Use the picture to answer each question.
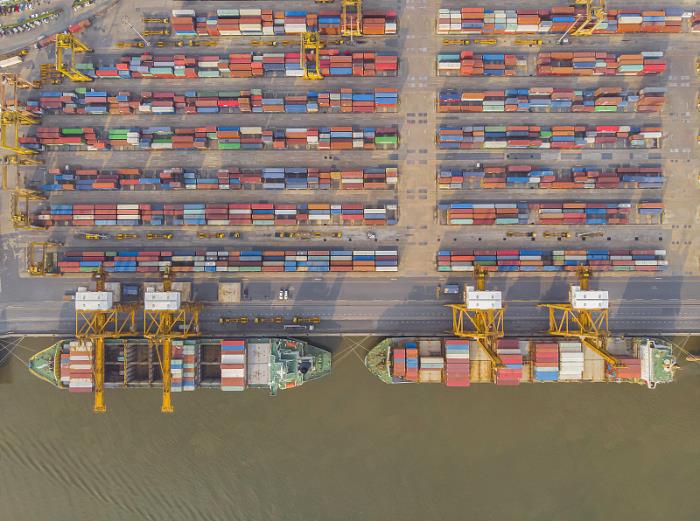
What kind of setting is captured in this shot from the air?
port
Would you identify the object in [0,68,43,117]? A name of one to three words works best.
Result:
container crane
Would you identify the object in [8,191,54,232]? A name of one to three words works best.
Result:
container crane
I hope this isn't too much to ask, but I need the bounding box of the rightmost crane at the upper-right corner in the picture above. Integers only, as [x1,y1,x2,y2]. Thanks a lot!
[571,0,610,40]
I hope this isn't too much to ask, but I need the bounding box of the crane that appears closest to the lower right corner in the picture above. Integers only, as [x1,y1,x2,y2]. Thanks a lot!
[541,263,630,367]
